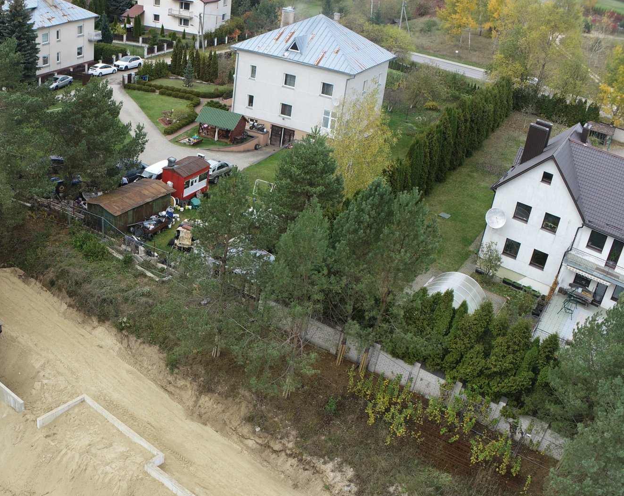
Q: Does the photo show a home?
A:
Yes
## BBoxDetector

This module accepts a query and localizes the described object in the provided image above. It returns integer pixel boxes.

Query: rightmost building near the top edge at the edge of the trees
[231,5,393,147]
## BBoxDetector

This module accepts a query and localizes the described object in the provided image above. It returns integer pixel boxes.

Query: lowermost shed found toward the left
[83,176,176,233]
